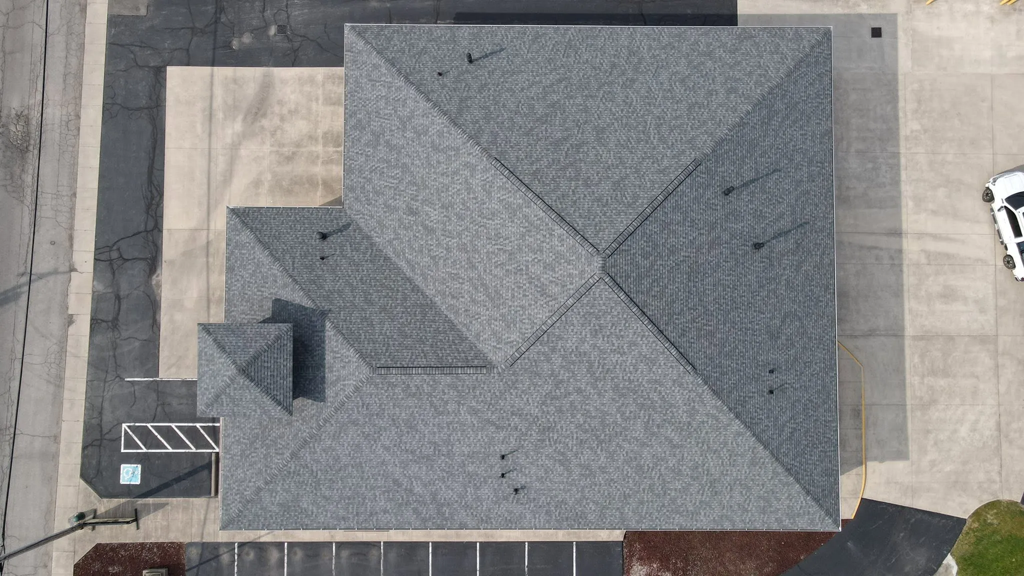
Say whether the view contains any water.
No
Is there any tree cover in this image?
No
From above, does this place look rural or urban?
urban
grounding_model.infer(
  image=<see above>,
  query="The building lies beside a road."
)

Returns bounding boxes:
[195,25,842,531]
